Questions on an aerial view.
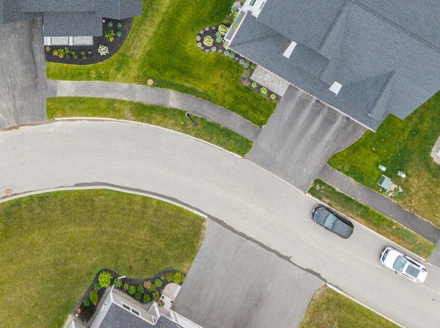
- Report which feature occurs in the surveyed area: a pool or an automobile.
automobile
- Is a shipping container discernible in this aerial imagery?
No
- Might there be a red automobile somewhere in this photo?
No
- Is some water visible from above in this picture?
No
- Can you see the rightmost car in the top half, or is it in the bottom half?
bottom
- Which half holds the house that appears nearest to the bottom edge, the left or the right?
left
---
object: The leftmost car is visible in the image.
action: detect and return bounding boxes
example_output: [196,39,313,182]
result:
[309,204,357,243]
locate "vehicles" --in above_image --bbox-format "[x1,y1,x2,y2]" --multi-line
[309,204,357,243]
[379,248,431,286]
